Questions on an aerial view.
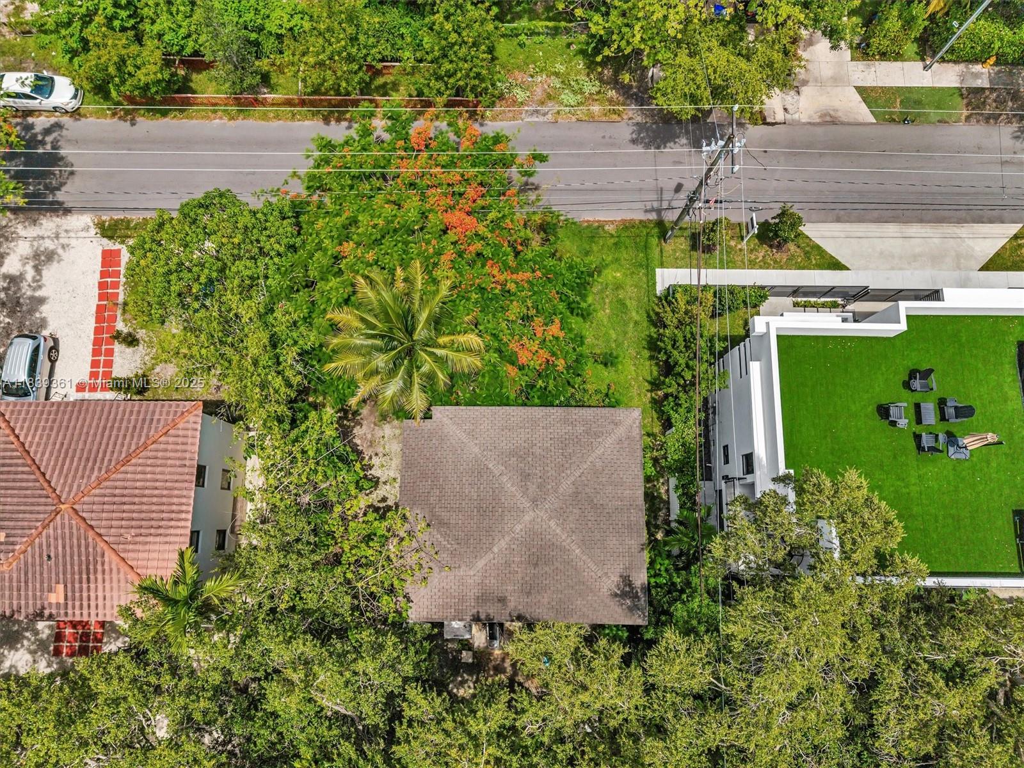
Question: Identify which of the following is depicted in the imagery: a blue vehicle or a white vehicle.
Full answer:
It is a white vehicle that can be seen here.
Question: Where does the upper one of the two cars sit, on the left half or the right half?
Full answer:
The upper one of the two cars appears in the left half of the scene.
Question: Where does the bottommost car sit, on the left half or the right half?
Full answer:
It is on the left.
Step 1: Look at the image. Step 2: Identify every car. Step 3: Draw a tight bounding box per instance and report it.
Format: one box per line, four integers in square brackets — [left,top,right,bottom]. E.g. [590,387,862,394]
[0,67,88,115]
[0,335,60,399]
